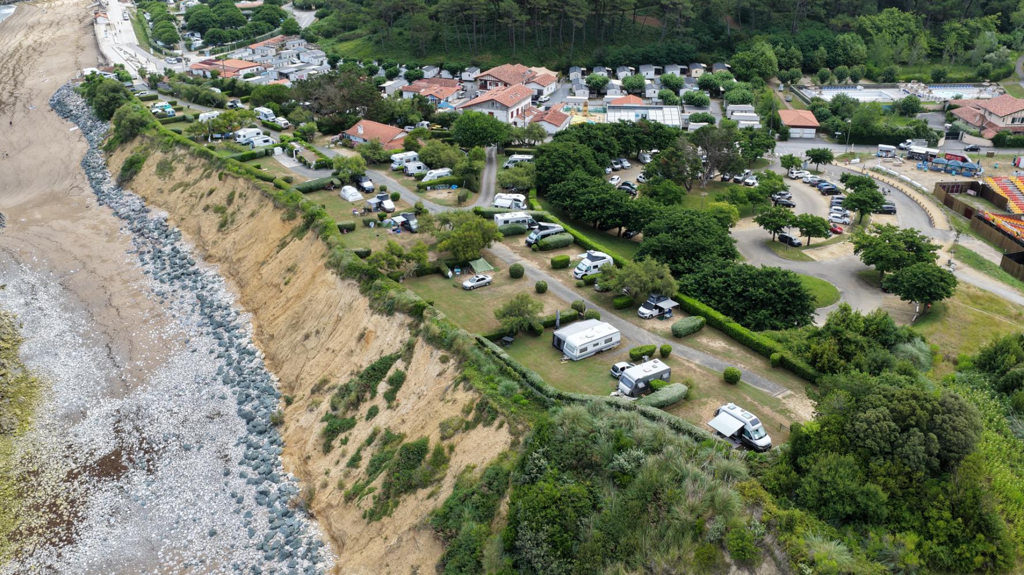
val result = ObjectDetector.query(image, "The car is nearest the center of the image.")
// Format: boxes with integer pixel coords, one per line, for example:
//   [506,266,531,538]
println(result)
[461,276,494,291]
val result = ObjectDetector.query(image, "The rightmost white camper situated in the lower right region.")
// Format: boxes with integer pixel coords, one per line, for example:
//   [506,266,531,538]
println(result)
[706,398,783,462]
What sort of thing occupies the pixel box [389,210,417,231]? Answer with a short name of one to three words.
camper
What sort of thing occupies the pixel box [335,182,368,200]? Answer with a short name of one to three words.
tent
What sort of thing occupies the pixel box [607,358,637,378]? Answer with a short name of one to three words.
car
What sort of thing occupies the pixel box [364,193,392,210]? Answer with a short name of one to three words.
camper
